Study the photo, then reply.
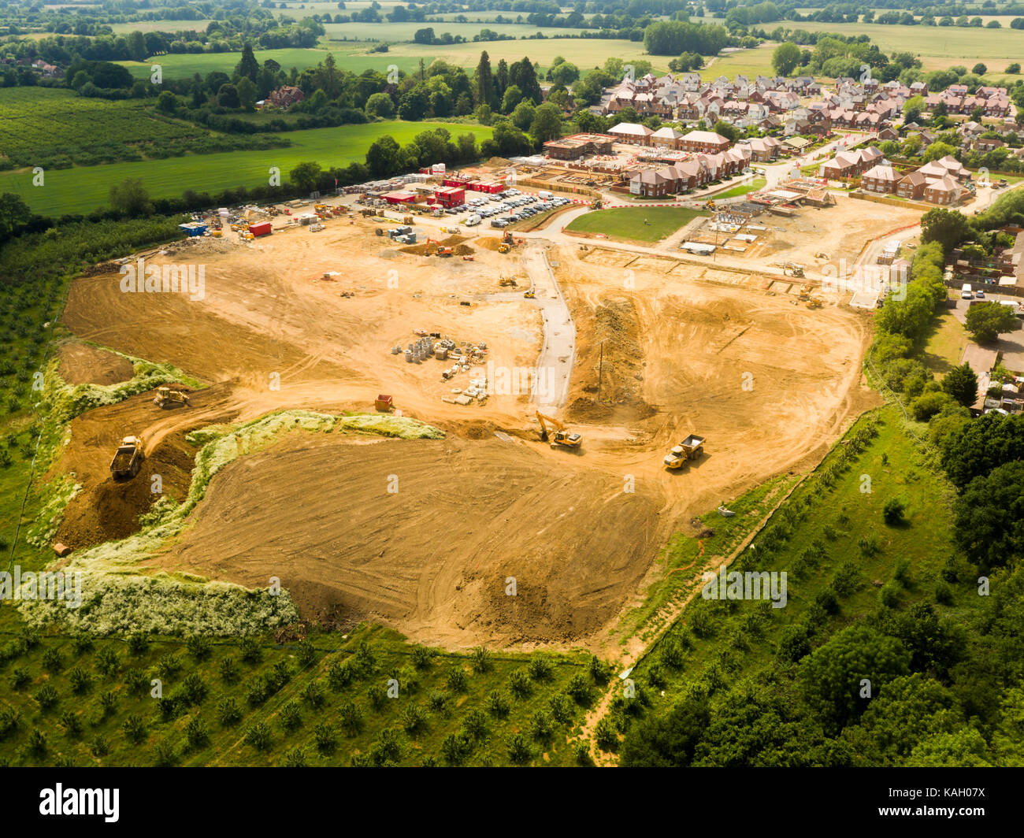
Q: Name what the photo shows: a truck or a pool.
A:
truck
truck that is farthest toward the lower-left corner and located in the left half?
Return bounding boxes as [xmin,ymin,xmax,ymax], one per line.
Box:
[108,444,142,486]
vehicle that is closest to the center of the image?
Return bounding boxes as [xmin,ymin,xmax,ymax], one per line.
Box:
[528,408,583,453]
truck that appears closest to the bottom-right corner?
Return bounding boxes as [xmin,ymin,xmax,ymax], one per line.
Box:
[663,437,711,472]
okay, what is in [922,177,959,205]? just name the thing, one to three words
house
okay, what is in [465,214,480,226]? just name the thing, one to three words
vehicle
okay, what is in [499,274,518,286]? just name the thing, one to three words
vehicle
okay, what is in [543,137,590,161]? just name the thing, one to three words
house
